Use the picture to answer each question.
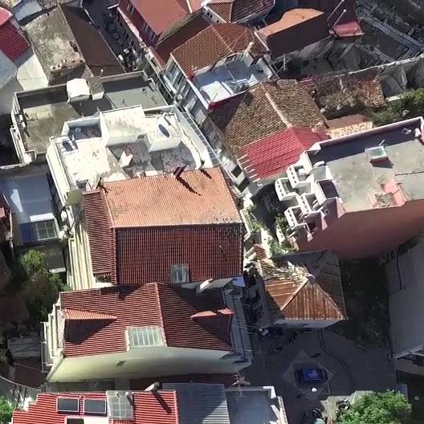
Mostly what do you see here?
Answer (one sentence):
The largest share of the image is taken up by buildings.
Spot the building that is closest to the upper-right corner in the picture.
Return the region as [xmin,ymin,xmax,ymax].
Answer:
[306,0,364,58]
